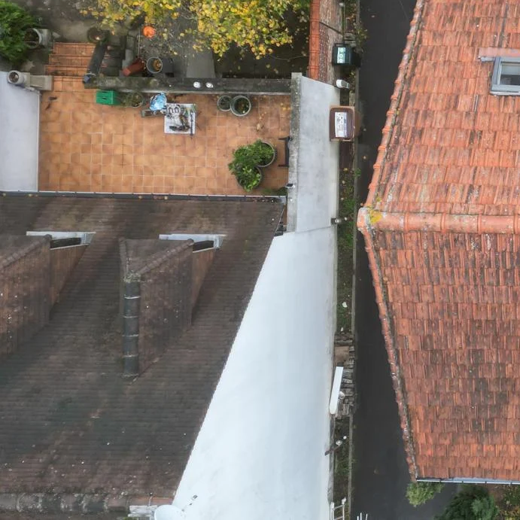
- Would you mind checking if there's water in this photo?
No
